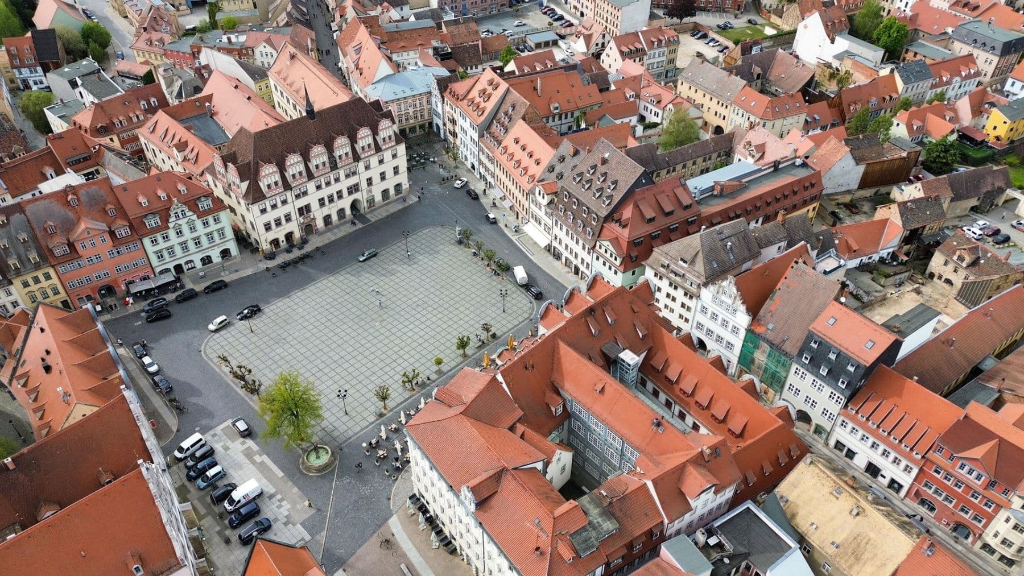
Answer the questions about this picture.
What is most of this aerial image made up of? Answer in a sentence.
The bulk of the photo consists of buildings.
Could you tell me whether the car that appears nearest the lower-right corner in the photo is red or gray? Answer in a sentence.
In this view, the car that appears nearest the lower-right corner is gray.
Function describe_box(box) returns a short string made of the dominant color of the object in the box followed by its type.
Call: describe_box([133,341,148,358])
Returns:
gray car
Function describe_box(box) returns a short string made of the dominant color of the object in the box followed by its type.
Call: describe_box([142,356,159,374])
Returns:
white car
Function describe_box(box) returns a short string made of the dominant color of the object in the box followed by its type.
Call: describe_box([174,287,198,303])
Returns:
black car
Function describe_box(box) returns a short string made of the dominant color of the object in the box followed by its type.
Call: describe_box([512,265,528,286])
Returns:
white car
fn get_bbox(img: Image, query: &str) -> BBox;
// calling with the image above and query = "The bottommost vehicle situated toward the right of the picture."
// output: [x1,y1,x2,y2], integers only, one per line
[901,510,936,534]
